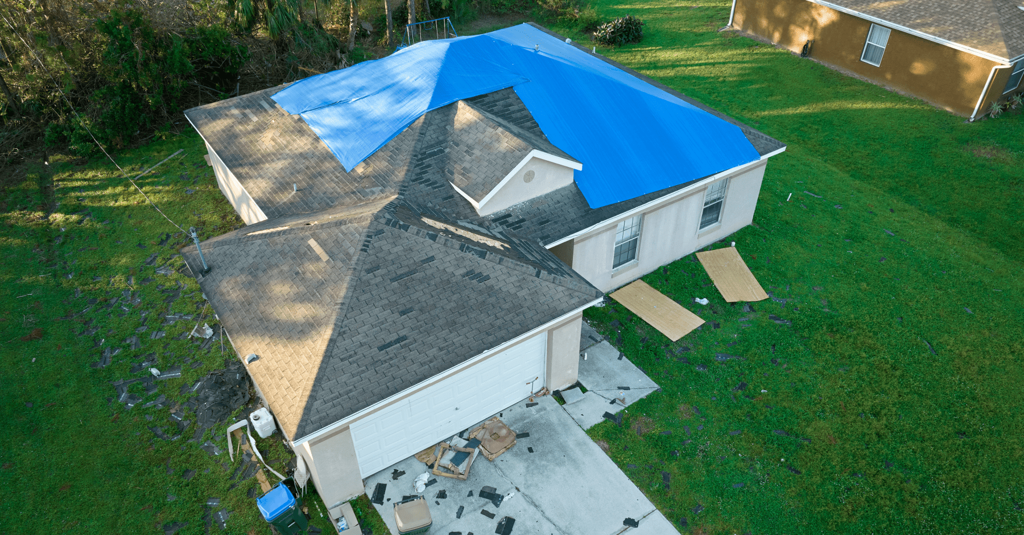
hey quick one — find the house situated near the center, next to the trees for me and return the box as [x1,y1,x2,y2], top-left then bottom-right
[178,21,787,511]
